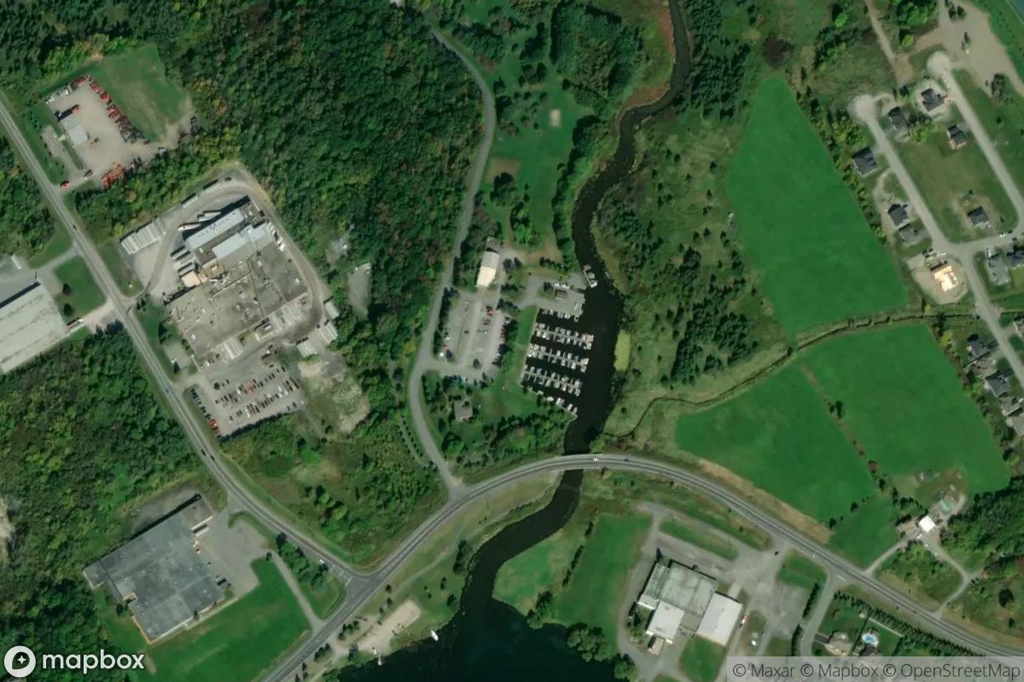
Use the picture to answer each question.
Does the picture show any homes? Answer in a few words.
Yes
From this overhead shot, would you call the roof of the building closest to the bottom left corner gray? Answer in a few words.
Yes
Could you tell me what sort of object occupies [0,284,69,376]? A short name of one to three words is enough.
building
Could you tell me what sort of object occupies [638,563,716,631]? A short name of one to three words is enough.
building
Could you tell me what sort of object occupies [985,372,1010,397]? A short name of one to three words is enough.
house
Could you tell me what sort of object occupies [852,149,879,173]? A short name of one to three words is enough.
house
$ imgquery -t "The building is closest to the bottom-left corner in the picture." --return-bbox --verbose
[84,496,223,643]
